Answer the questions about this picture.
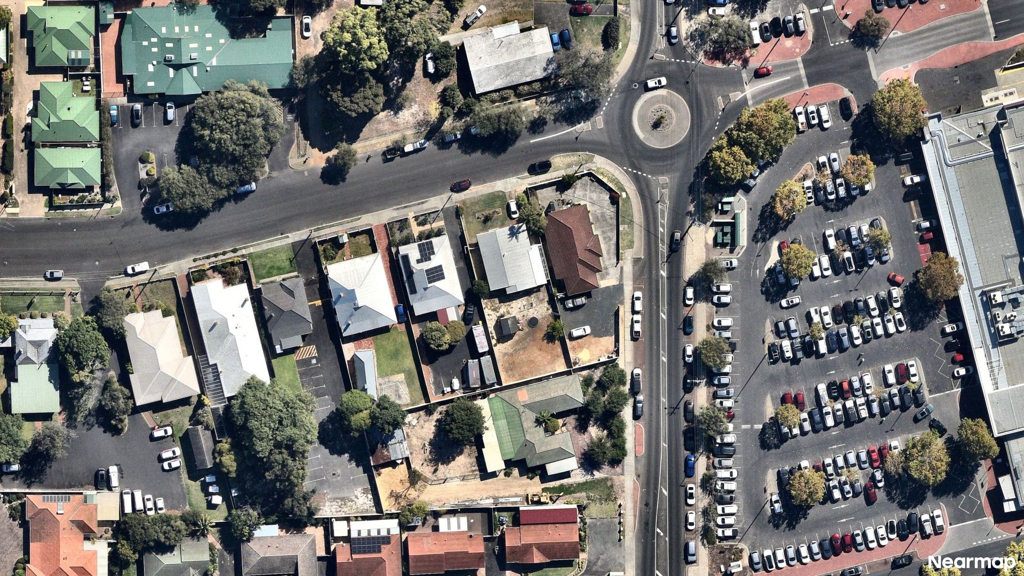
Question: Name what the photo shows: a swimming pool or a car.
car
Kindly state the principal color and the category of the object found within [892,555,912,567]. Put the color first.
black vehicle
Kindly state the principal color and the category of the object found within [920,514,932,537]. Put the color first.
white vehicle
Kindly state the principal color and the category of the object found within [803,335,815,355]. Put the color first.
black vehicle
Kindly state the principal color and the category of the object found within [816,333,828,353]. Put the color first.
white vehicle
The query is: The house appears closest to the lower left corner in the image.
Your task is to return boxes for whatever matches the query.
[26,492,119,576]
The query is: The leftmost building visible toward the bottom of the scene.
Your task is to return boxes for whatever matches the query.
[0,318,59,414]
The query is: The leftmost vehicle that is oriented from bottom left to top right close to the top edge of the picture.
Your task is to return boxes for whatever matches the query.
[466,6,485,25]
